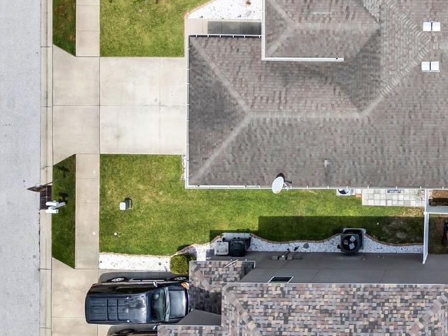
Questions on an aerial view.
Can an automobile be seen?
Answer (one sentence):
Yes, you can see an automobile in this photo.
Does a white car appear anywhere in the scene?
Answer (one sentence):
No, the photo shows no white car.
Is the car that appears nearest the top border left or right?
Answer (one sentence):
The car that appears nearest the top border is on the left side of the image.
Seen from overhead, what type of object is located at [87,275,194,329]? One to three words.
car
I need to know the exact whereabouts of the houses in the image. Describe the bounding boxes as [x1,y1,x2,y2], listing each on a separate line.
[157,252,448,336]
[186,0,448,190]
